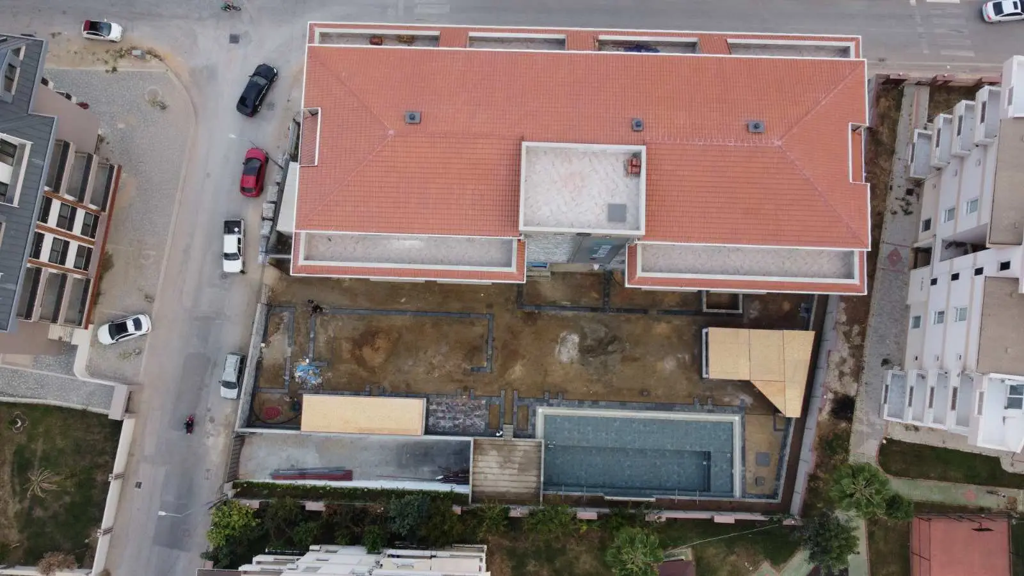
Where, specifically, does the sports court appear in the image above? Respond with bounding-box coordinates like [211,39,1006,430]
[913,517,1012,576]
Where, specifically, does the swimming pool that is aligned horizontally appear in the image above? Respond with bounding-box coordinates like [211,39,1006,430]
[538,408,742,506]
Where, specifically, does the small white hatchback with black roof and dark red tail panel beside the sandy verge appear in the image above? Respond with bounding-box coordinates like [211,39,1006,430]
[77,18,124,43]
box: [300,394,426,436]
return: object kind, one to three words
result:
shed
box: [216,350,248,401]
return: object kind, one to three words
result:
car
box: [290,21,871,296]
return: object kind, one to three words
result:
house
